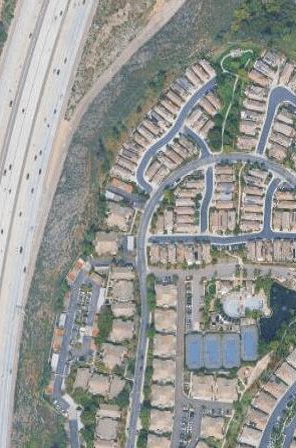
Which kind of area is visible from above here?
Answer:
residential area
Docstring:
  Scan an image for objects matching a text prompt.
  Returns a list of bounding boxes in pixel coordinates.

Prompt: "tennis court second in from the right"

[223,333,239,368]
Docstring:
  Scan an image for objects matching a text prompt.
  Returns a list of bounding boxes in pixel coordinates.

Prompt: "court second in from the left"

[203,333,221,368]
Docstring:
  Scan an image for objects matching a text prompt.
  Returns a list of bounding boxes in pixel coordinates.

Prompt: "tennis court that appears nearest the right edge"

[240,326,257,361]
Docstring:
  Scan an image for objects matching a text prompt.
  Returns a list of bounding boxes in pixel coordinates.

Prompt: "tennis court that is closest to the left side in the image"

[186,333,202,368]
